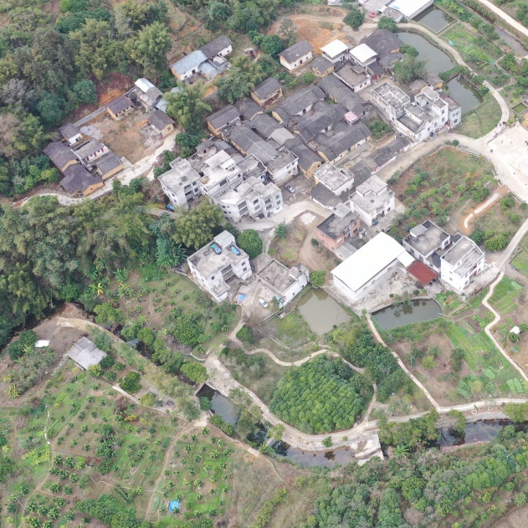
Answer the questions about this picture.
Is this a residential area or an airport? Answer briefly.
residential area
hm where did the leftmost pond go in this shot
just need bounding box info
[296,291,352,337]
